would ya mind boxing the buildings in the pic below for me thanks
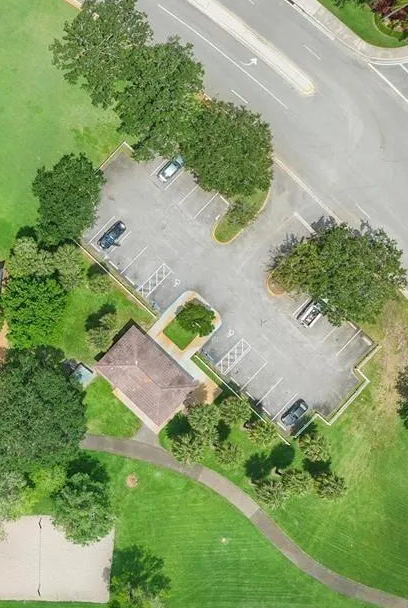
[69,364,92,384]
[96,325,199,430]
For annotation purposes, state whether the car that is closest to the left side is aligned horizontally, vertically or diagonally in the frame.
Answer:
diagonally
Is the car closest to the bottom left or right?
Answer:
right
